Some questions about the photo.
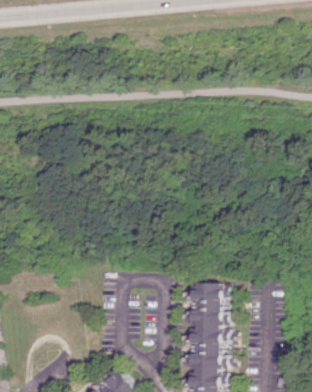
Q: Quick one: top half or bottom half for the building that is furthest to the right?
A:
bottom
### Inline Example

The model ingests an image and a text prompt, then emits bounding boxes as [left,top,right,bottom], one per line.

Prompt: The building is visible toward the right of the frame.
[180,285,232,392]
